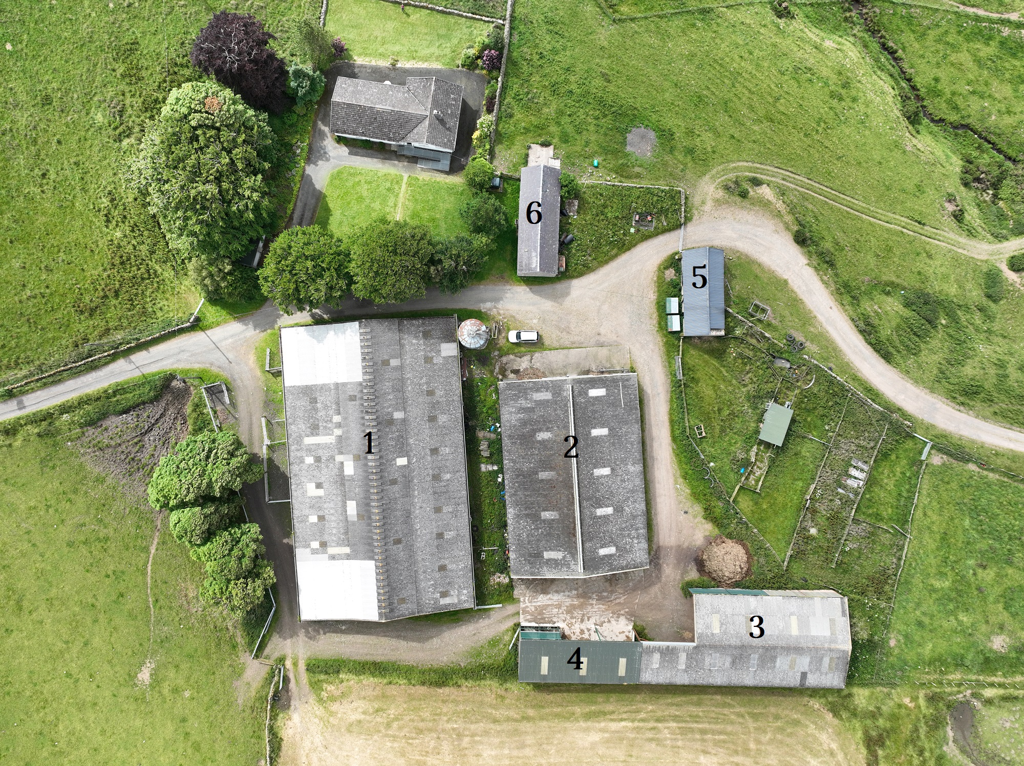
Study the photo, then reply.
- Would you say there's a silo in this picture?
Yes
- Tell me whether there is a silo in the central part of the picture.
Yes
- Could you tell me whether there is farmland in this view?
Yes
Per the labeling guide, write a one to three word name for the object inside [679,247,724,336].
shed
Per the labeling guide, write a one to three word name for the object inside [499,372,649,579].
barn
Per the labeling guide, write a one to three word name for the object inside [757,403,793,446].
shed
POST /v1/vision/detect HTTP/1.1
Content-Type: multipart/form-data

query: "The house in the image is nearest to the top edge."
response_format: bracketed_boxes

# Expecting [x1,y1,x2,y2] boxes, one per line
[330,76,463,172]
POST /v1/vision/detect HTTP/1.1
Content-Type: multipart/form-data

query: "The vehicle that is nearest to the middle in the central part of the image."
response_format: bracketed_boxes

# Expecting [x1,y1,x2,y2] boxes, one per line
[509,330,538,343]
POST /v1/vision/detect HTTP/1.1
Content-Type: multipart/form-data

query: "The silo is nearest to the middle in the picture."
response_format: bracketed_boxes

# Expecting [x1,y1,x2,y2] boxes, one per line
[458,319,493,350]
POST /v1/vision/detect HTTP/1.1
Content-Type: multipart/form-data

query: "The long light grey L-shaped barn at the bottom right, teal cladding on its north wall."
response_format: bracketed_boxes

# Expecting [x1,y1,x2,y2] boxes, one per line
[635,589,853,690]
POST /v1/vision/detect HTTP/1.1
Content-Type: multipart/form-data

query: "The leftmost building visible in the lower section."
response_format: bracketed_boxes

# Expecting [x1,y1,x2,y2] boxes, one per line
[280,314,476,623]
